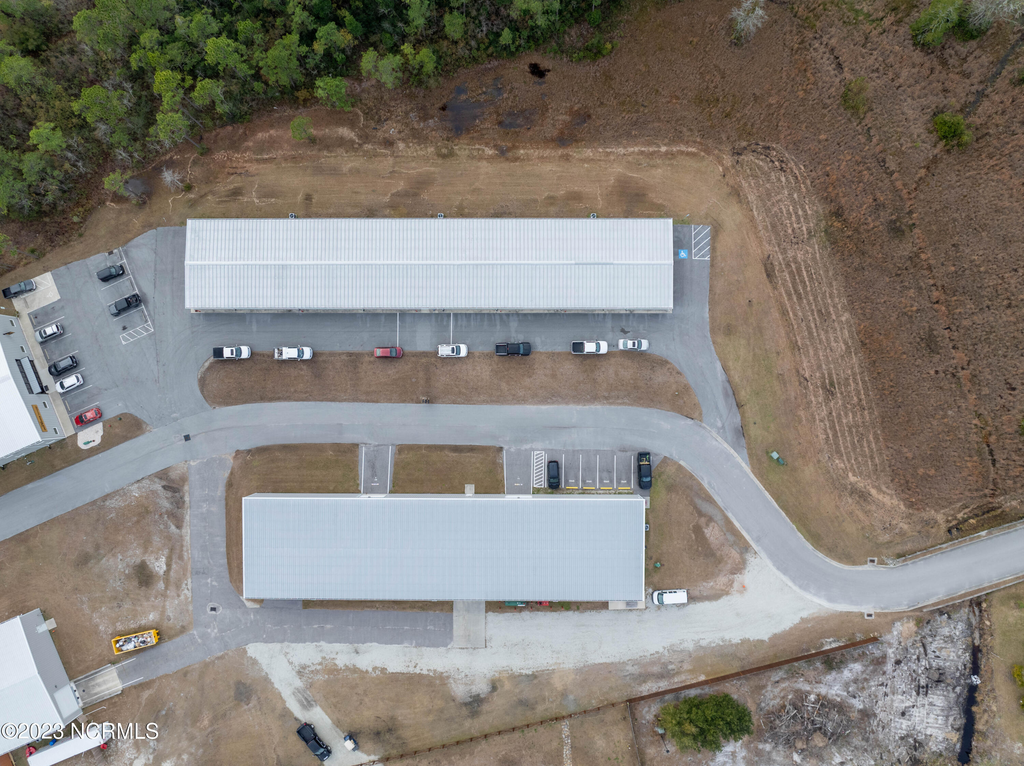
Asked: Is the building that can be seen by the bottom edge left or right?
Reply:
left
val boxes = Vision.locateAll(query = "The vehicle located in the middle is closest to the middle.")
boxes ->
[495,343,532,357]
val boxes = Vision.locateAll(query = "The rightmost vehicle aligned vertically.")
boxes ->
[637,452,653,489]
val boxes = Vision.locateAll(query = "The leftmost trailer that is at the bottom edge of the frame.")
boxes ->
[18,721,115,766]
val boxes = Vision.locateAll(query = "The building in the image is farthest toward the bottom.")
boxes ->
[0,608,82,755]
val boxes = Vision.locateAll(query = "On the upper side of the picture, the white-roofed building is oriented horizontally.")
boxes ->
[183,219,674,309]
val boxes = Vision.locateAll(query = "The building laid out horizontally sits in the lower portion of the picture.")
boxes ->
[241,492,646,601]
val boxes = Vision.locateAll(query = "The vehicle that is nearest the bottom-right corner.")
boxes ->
[651,588,689,605]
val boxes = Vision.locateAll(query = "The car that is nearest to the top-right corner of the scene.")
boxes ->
[618,337,649,352]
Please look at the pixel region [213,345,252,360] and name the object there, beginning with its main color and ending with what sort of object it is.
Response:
white vehicle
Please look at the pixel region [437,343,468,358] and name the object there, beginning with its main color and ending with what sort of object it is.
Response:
white car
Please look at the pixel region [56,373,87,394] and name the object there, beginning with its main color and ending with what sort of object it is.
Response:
white car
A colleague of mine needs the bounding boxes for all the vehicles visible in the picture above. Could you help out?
[213,345,252,360]
[75,407,105,427]
[571,339,607,355]
[637,452,653,489]
[437,343,468,358]
[56,373,87,394]
[618,337,649,352]
[651,588,689,605]
[108,293,145,317]
[48,354,82,377]
[35,322,66,343]
[296,722,330,759]
[495,343,532,357]
[93,263,128,285]
[374,347,404,360]
[274,345,313,361]
[547,460,561,490]
[0,277,38,302]
[344,734,359,752]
